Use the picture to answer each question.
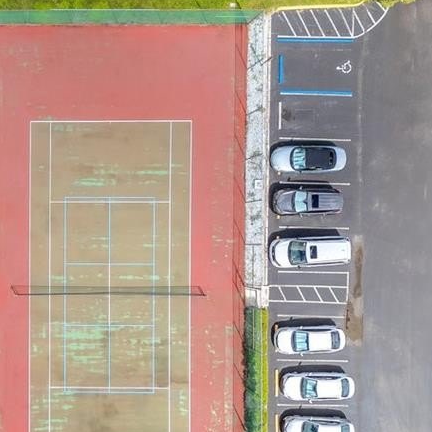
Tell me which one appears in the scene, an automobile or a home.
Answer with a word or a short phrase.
automobile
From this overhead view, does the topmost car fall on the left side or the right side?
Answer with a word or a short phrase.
right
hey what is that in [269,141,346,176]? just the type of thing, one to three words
car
